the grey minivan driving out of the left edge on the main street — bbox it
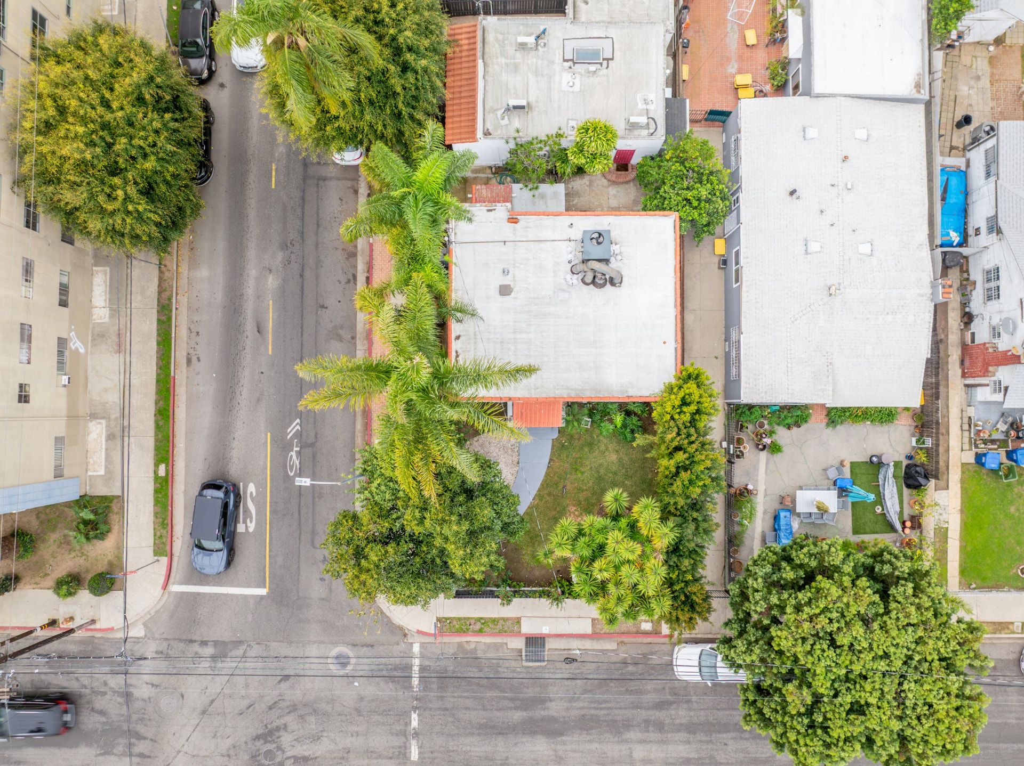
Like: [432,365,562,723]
[0,694,71,744]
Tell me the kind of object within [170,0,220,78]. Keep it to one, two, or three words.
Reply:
car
